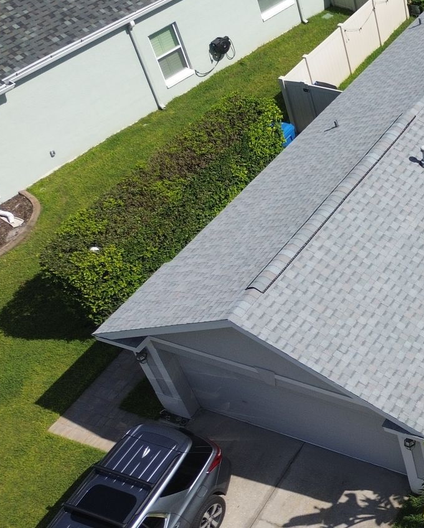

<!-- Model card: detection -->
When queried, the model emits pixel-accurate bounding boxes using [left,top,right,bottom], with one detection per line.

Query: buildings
[0,0,329,203]
[96,9,424,498]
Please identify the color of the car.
black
